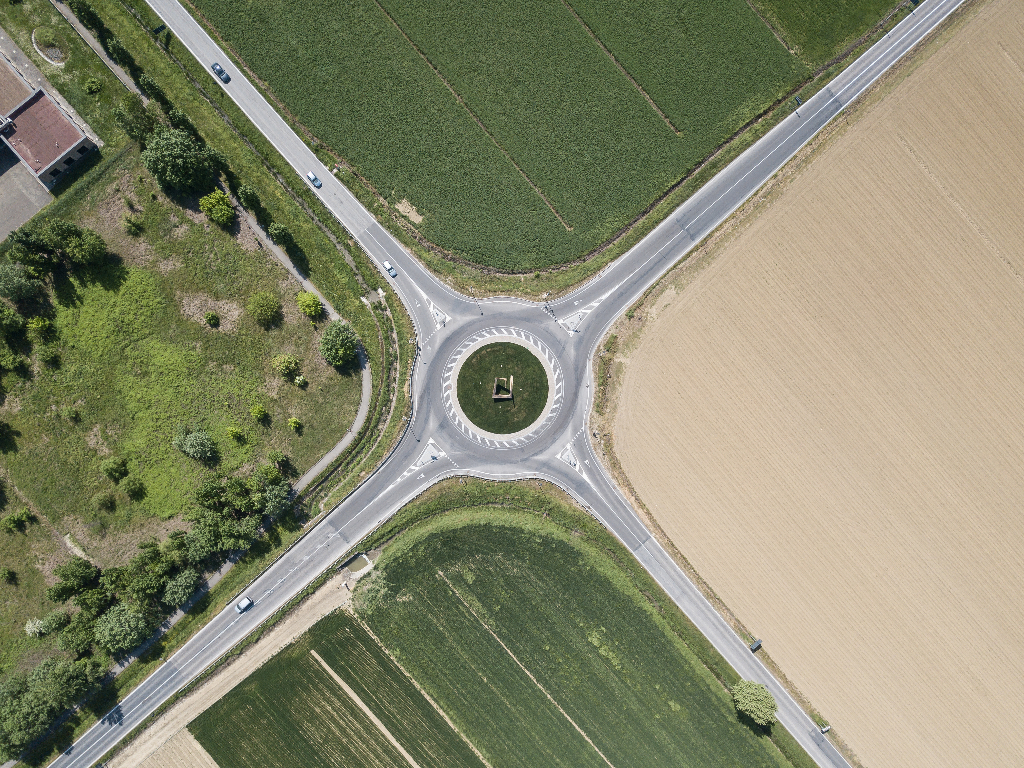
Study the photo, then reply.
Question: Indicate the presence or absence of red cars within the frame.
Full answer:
No, I find no red car anywhere in the image.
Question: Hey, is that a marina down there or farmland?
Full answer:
It's farmland.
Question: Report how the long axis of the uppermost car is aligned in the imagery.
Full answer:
Seen from above, the uppermost car lies at an angle.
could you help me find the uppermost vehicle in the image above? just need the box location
[208,59,228,82]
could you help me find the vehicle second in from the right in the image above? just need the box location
[304,169,321,187]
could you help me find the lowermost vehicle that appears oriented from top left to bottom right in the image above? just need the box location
[380,258,397,277]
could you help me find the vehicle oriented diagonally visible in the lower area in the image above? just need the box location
[233,596,252,614]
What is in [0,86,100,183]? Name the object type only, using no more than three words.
building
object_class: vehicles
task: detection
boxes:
[233,596,252,614]
[304,169,321,187]
[380,258,397,277]
[208,59,228,82]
